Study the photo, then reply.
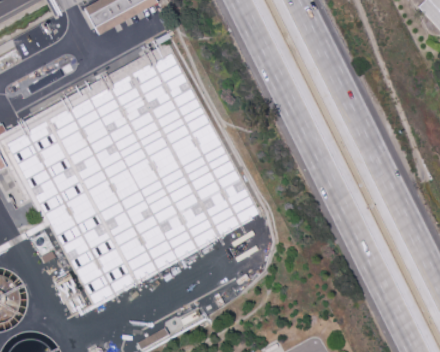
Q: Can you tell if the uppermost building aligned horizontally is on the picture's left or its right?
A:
left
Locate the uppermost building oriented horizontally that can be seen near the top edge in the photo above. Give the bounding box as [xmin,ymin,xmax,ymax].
[85,0,160,35]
